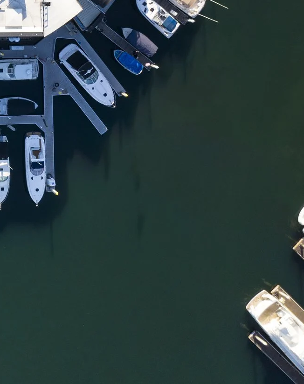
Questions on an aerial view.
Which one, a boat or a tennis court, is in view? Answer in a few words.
boat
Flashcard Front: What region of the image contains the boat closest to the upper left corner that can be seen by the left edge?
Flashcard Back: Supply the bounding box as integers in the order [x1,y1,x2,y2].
[0,58,39,83]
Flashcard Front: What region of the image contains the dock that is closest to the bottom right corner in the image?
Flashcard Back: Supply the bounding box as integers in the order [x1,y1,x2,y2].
[246,329,302,384]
